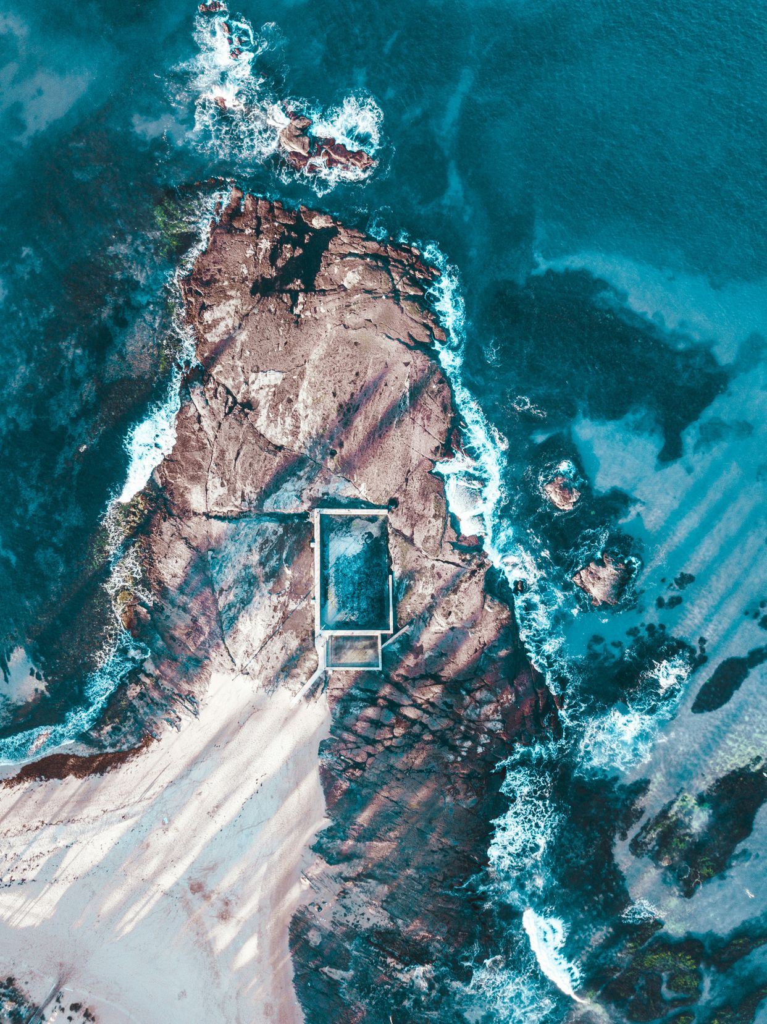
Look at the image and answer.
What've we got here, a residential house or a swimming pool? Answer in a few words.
swimming pool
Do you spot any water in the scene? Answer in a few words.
Yes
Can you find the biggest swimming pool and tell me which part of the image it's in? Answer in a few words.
center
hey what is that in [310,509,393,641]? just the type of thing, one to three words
swimming pool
